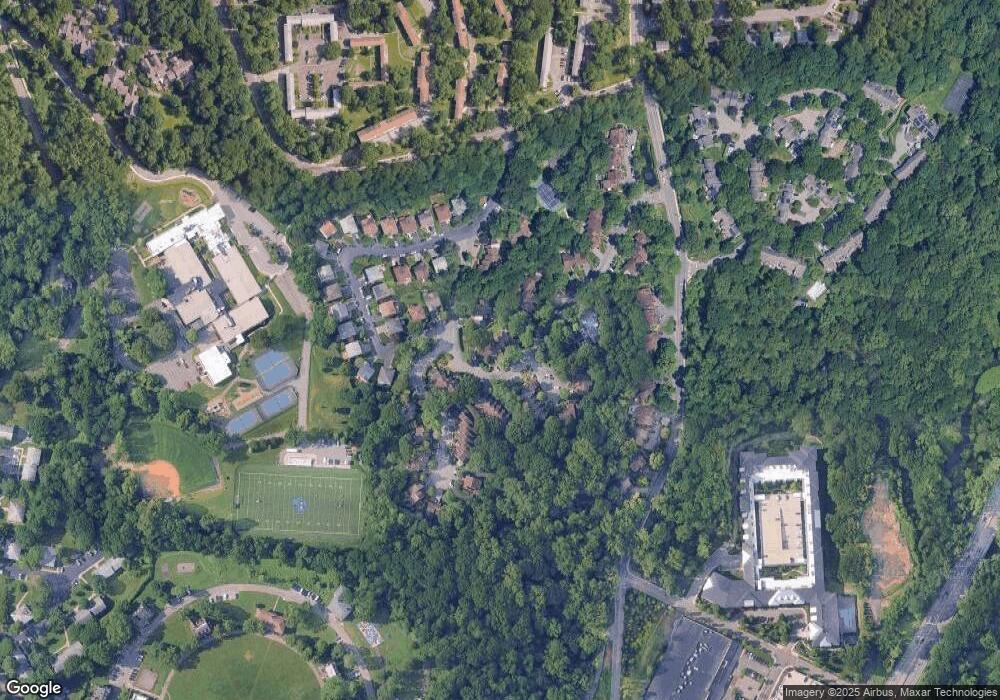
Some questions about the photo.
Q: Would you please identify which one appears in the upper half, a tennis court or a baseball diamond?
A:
tennis court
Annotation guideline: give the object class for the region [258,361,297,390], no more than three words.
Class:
tennis court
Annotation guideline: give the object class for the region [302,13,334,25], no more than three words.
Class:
building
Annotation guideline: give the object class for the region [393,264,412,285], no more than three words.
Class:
house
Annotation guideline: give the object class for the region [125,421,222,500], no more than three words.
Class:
baseball field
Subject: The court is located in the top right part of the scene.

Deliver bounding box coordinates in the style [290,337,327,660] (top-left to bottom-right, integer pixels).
[944,73,973,112]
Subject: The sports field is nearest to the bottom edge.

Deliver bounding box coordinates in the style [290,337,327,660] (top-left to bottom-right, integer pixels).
[174,634,318,700]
